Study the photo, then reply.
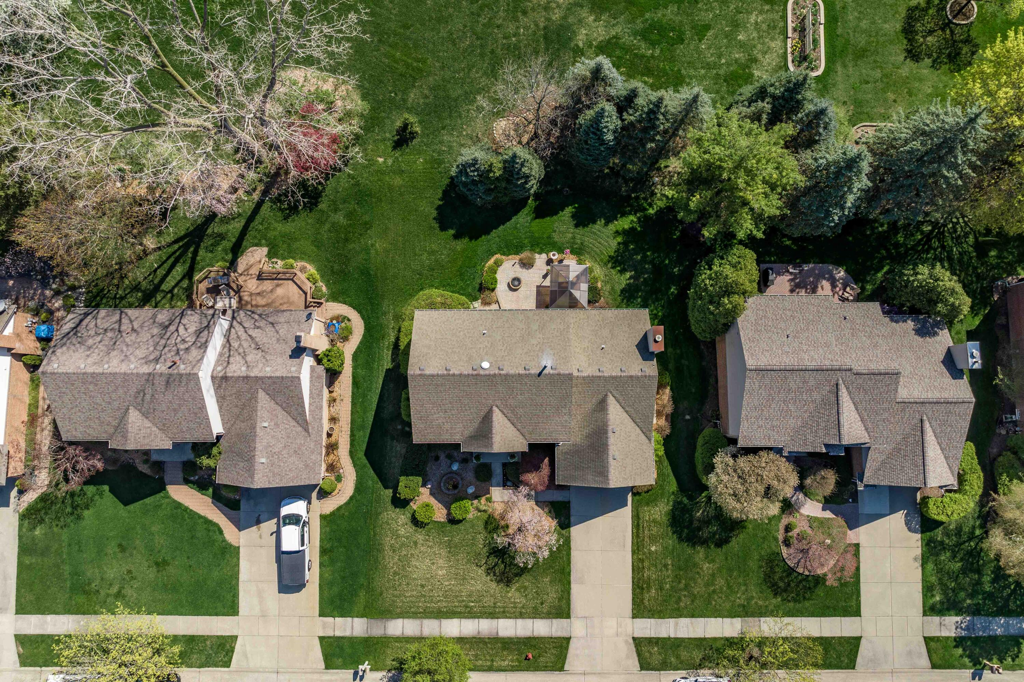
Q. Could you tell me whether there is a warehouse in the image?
No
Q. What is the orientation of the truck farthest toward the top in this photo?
up and down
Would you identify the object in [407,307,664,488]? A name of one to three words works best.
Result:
house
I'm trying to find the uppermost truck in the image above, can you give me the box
[272,496,310,588]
